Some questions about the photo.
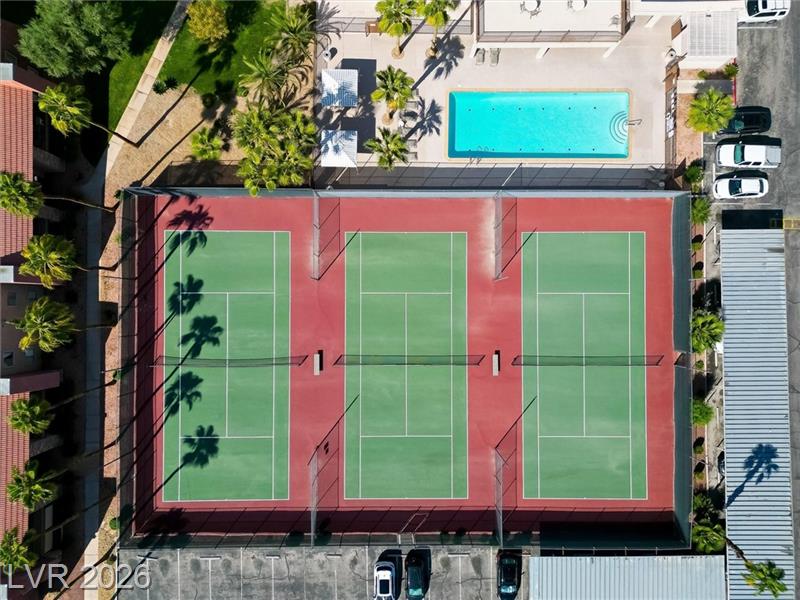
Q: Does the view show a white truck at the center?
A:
No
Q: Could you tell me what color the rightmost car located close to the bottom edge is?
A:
black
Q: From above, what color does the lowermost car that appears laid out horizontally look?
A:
white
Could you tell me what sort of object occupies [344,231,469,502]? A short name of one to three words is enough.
tennis court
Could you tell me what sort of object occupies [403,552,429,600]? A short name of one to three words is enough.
car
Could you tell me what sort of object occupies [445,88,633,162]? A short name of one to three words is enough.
swimming pool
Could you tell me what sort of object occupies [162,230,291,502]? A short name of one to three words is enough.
tennis court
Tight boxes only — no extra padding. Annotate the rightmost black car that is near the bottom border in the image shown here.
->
[496,550,523,600]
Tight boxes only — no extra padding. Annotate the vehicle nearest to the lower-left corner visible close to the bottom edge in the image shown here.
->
[373,559,398,600]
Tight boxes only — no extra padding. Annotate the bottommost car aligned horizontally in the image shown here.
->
[712,173,768,198]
